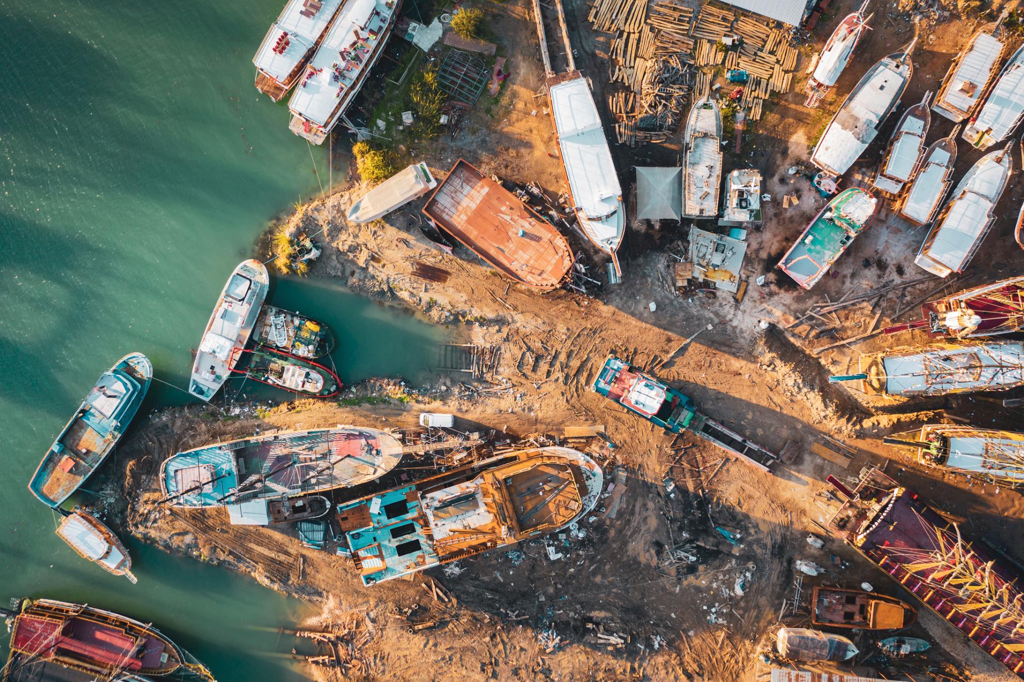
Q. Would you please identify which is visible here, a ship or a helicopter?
ship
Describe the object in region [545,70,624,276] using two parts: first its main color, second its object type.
white boat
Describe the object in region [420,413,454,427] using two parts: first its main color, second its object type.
white vehicle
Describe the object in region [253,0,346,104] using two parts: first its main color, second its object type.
white boat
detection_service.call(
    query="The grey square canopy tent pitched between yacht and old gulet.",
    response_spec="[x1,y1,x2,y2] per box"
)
[635,166,683,223]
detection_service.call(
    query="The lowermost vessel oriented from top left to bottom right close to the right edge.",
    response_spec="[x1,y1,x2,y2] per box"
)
[824,468,1024,682]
